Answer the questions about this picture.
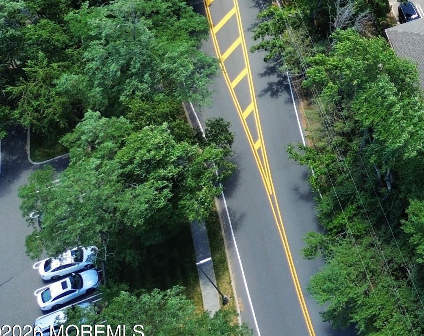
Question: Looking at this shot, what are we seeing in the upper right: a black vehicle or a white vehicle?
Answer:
black vehicle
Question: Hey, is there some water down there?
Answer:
No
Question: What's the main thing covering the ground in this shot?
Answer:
trees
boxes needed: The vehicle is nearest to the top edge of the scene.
[399,5,419,23]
